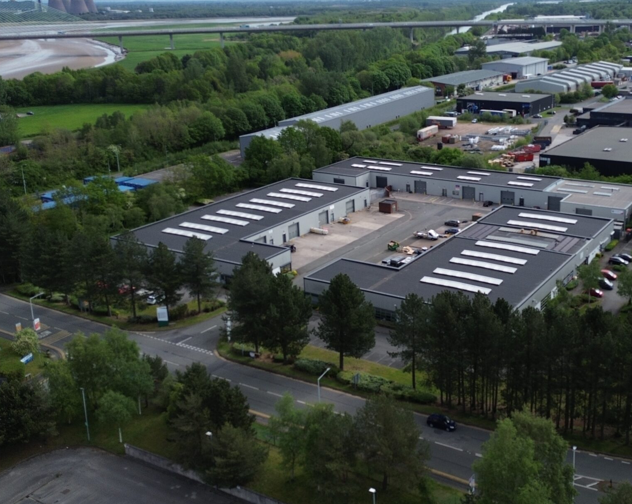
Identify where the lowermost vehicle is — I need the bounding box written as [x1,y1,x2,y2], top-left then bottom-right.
[424,412,459,432]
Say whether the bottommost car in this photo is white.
No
